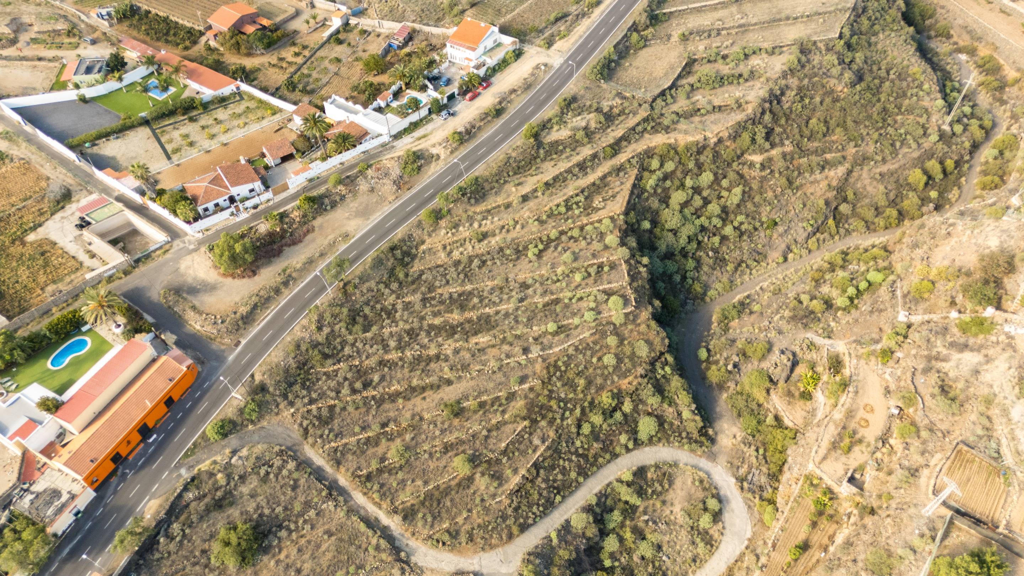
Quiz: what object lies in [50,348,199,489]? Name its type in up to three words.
building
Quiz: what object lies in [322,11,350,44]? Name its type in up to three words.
shed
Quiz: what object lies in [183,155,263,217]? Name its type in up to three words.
house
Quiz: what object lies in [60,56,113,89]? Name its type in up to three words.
building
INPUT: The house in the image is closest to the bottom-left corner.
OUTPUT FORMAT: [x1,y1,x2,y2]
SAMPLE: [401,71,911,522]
[13,469,96,535]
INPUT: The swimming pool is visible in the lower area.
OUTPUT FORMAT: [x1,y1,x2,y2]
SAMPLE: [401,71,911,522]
[47,335,92,370]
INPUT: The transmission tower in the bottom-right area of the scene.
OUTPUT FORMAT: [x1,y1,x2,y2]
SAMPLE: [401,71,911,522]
[922,472,977,516]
